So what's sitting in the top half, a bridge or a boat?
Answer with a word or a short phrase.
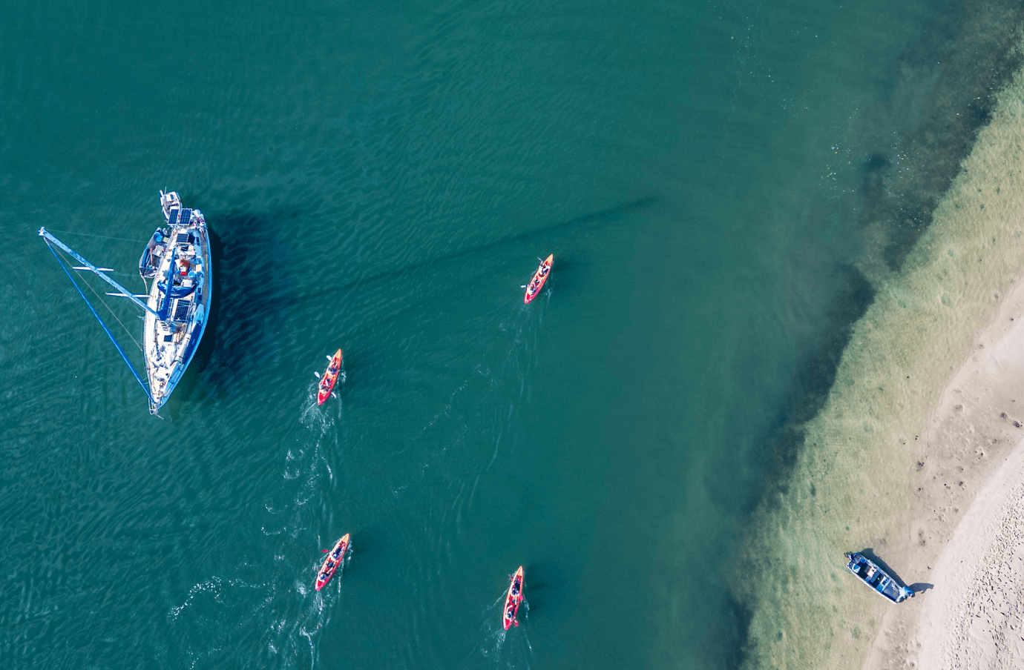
boat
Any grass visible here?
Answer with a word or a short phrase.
No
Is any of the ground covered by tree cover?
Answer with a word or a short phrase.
No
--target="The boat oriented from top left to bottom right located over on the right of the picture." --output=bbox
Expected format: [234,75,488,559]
[841,550,906,603]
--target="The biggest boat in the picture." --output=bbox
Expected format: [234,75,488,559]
[36,203,213,424]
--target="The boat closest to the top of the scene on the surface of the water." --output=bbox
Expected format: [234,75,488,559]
[159,185,183,221]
